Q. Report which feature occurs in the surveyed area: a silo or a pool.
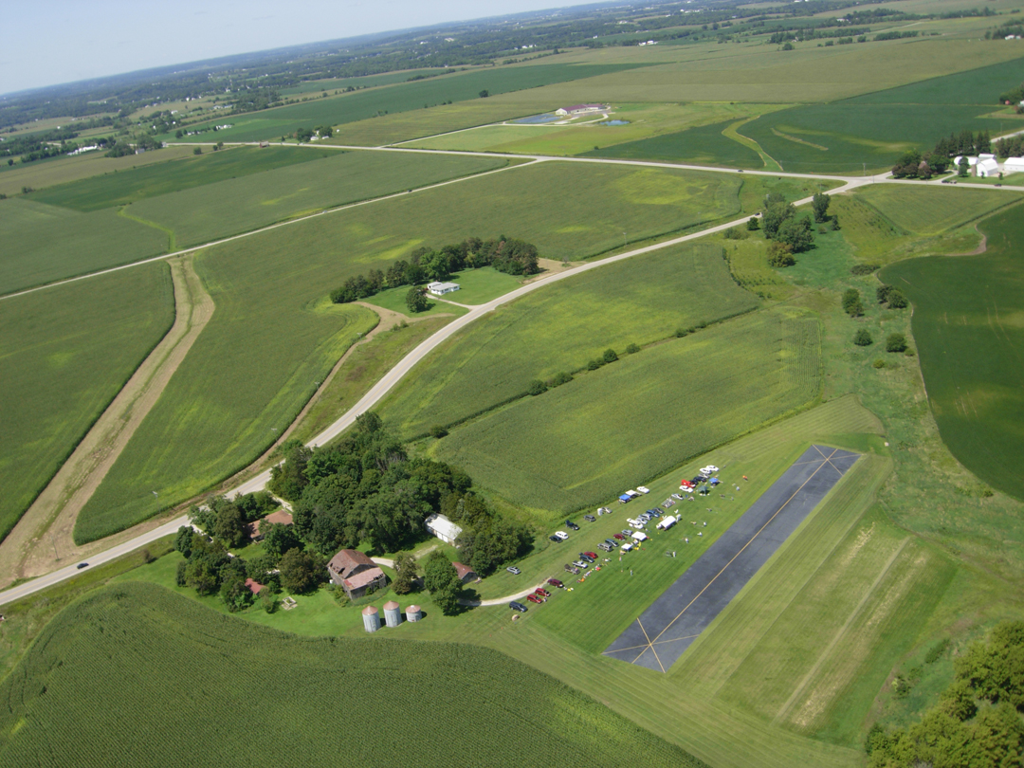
silo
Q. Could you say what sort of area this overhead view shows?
farmland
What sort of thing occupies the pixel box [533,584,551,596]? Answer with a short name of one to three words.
vehicle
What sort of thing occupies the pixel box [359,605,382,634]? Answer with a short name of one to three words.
silo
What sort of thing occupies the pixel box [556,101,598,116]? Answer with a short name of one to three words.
building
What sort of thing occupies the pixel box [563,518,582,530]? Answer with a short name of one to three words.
vehicle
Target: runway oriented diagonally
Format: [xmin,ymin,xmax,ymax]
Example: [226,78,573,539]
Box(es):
[605,446,862,674]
